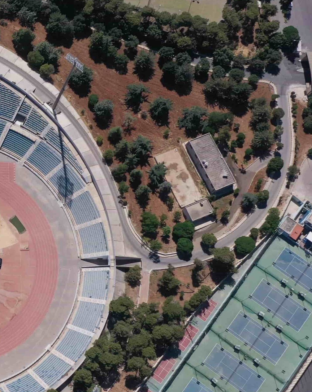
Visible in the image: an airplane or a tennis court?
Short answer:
tennis court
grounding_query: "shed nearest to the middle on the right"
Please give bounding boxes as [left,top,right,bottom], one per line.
[182,199,213,222]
